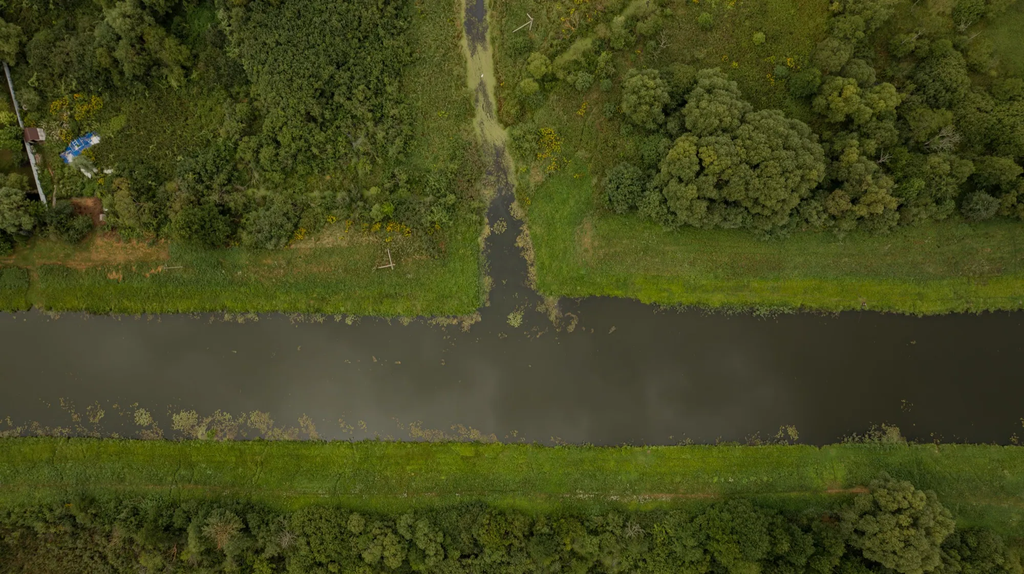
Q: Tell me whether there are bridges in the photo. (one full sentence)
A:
No, there isn't any bridge down there.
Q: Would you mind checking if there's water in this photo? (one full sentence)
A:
Yes, water shows up in the scene.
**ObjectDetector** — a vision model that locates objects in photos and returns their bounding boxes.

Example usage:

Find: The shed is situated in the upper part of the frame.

[22,127,53,145]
